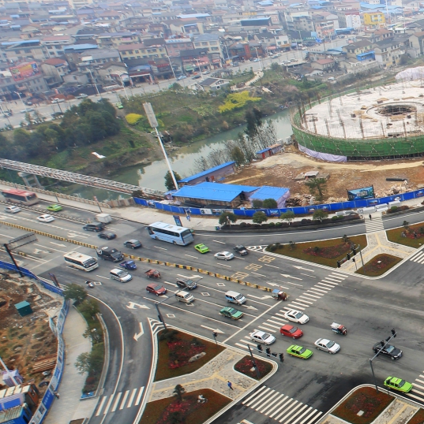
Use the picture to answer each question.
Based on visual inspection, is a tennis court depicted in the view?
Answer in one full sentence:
No, there's no tennis court here.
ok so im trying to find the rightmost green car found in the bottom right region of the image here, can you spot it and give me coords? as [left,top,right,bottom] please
[381,377,414,395]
